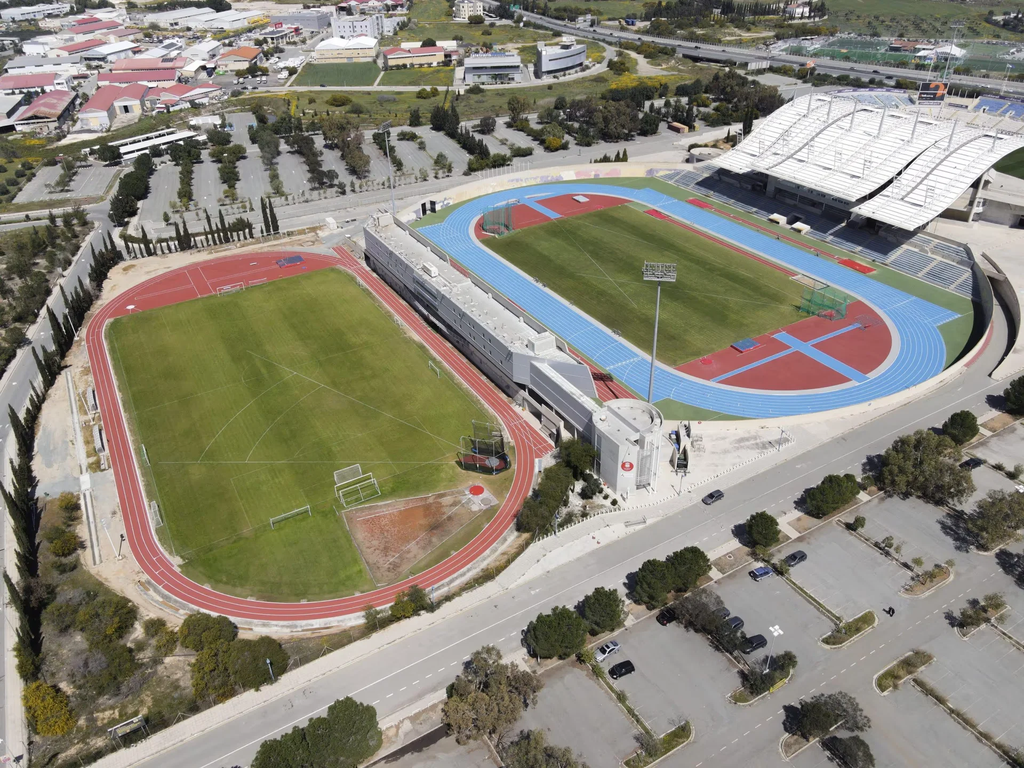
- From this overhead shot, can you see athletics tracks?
Yes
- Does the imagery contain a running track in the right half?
Yes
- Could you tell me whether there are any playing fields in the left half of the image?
Yes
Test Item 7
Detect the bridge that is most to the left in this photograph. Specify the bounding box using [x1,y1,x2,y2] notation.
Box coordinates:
[667,52,762,73]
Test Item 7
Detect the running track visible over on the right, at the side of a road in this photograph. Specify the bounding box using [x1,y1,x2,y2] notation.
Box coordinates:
[420,184,959,418]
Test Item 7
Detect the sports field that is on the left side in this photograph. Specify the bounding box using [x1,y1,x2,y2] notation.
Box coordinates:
[102,265,515,603]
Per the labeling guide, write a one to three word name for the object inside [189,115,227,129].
shed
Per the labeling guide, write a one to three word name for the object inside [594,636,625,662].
car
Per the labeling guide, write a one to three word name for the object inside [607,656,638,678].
car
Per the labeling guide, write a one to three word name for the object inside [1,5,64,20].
building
